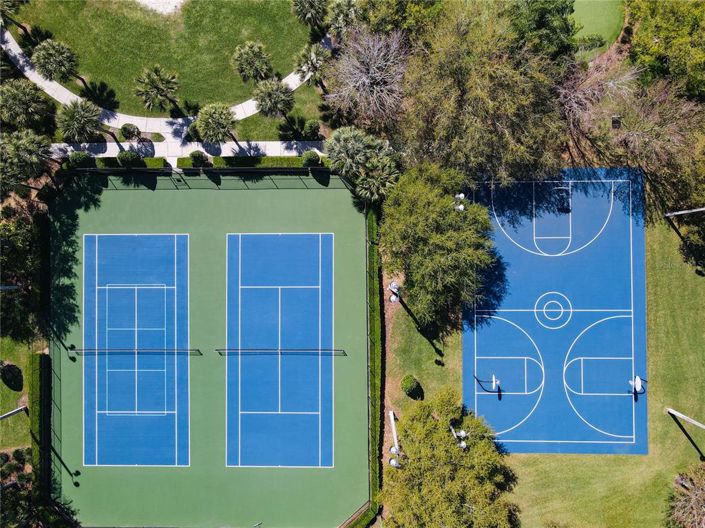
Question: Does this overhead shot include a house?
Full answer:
No, the frame has no house in it.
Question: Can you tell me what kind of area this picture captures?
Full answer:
The area seen from above is a sports ground.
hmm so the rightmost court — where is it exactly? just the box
[461,167,648,454]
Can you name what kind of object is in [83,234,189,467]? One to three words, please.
tennis court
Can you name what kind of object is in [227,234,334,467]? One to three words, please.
tennis court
